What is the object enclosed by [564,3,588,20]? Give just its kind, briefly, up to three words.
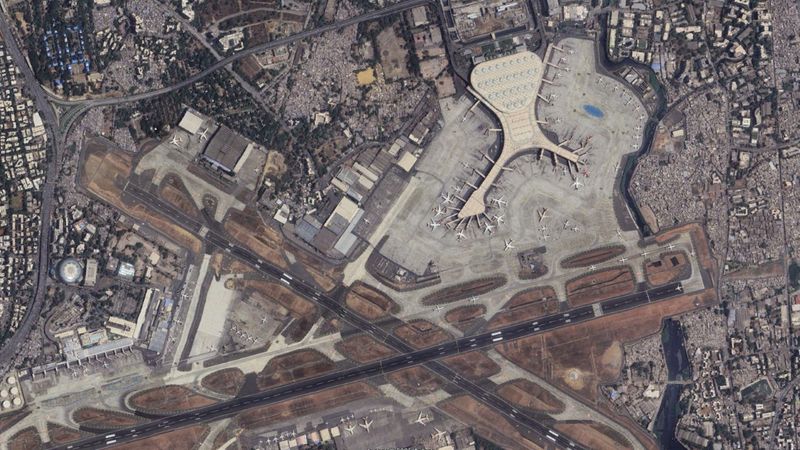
building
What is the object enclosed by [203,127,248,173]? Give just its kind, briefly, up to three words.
hangar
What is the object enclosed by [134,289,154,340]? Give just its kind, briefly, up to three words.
building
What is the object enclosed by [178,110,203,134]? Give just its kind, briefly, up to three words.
hangar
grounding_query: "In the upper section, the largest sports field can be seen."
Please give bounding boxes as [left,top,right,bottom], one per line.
[380,27,407,80]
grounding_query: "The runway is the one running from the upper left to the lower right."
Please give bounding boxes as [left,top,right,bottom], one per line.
[123,179,584,450]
